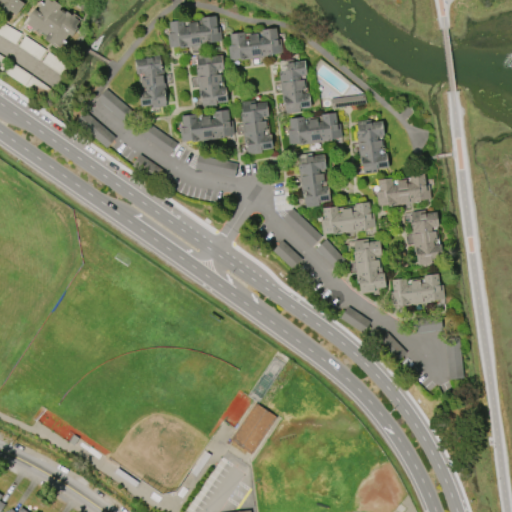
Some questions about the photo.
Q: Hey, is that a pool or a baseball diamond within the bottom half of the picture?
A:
baseball diamond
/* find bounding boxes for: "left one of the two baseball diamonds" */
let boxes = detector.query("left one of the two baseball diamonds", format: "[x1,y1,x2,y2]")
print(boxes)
[2,212,284,492]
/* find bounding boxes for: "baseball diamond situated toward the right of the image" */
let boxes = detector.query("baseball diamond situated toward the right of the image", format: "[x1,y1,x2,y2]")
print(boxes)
[257,359,406,512]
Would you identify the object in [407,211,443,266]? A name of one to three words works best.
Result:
building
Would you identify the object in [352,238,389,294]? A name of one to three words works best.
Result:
building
